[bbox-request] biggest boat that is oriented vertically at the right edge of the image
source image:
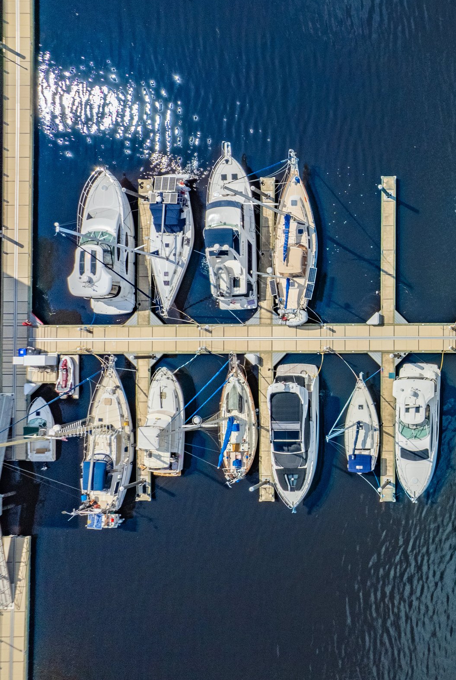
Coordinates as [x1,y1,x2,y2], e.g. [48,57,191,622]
[393,364,441,503]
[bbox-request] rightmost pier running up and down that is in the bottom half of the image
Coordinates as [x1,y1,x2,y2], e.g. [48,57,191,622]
[367,352,410,503]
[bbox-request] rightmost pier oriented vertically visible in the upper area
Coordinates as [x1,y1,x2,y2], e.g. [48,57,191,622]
[378,175,410,324]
